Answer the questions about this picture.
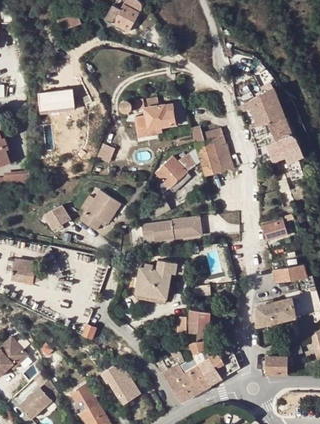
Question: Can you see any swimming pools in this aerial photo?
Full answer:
Yes, a swimming pool appears in the view.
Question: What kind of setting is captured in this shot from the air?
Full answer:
The area seen from above is a residential area.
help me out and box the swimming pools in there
[132,148,155,166]
[198,245,233,284]
[44,124,55,152]
[38,416,56,424]
[23,364,39,382]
